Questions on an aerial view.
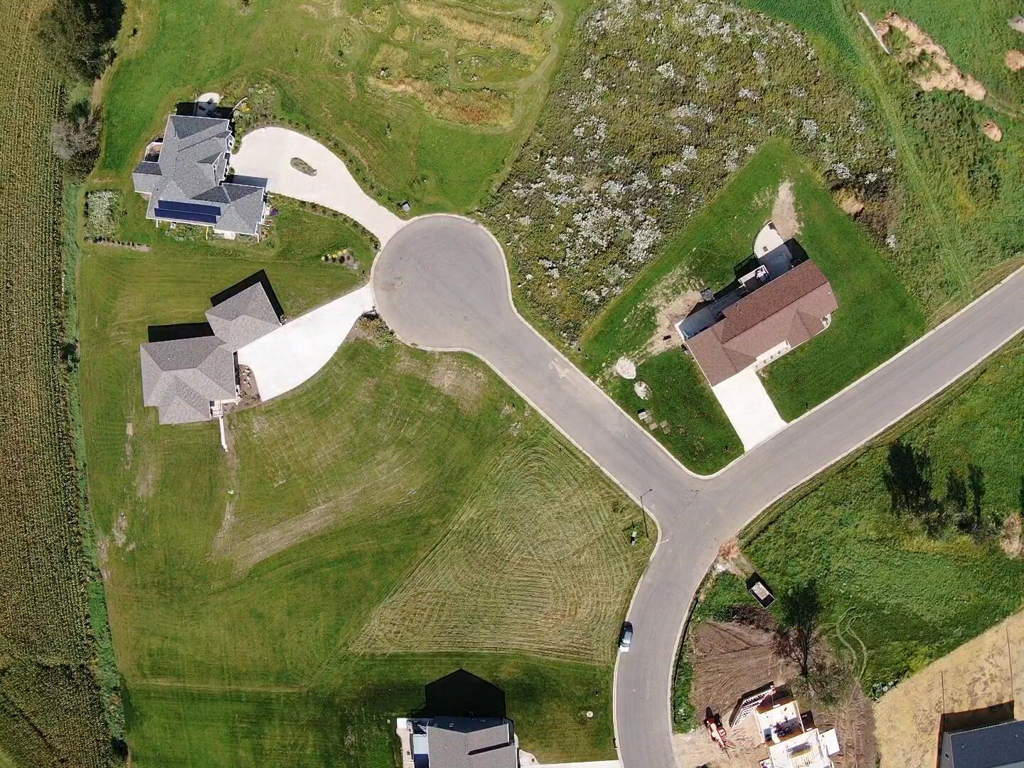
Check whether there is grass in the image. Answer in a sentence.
Yes, some grass is visible.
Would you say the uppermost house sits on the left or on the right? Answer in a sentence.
The uppermost house is on the left side of the image.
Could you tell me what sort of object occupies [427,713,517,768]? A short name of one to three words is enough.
house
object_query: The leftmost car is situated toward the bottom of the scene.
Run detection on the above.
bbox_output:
[618,624,631,649]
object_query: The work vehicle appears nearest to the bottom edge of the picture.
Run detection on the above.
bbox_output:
[709,720,731,755]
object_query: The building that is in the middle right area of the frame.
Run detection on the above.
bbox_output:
[684,259,838,387]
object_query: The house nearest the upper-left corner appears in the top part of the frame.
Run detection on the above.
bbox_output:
[133,115,271,243]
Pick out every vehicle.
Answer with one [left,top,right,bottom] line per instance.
[618,624,631,649]
[709,720,731,755]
